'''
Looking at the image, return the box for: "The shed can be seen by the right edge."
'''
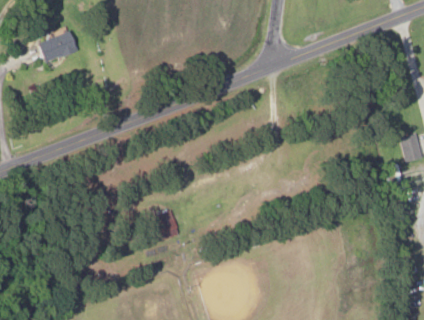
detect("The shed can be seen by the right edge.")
[400,134,422,160]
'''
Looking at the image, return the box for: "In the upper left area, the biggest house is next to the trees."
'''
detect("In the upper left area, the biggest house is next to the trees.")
[36,26,76,62]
